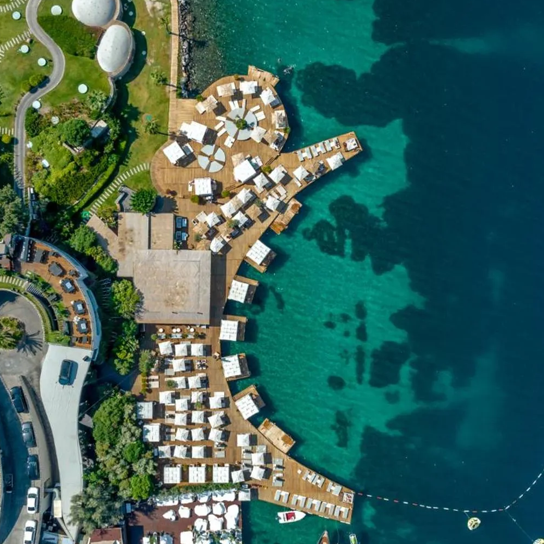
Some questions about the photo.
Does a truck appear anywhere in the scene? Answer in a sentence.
No, the frame has no truck in it.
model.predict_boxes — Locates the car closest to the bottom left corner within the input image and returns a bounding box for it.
[22,520,36,544]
